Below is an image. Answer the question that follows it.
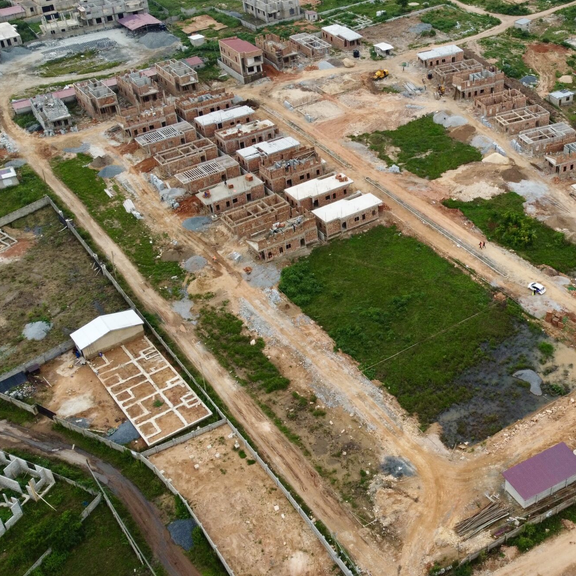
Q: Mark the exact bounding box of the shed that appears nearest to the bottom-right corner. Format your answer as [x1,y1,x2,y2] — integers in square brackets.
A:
[502,442,576,511]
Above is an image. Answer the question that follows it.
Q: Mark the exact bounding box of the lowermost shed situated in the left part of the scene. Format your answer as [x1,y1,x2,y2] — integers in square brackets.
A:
[70,310,145,363]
